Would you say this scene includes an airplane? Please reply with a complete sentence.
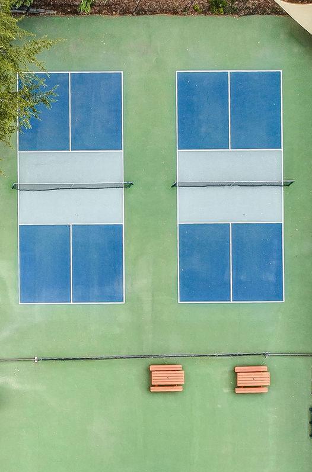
No, there's no airplane here.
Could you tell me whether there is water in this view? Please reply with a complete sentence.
No, water can't be seen anywhere here.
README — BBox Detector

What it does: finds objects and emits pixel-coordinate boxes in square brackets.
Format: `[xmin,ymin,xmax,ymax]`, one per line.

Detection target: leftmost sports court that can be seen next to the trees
[18,71,125,304]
